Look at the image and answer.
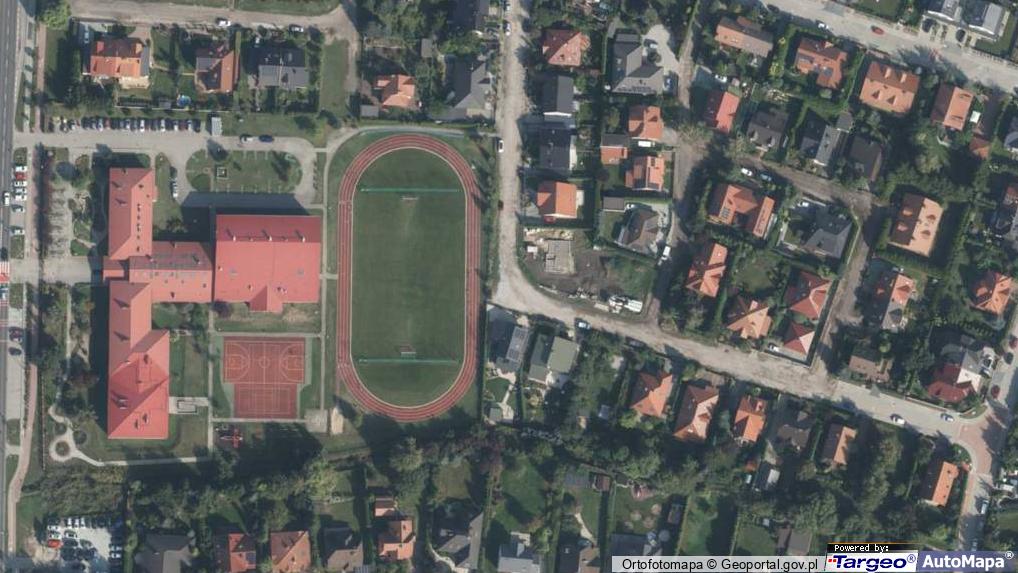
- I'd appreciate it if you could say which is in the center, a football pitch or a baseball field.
football pitch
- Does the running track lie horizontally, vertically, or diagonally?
vertically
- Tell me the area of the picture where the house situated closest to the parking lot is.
bottom left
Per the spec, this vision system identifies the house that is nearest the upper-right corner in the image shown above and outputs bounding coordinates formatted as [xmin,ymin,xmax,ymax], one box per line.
[961,0,1007,41]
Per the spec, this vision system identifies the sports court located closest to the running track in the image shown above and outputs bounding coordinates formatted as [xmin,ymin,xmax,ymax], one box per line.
[219,336,311,419]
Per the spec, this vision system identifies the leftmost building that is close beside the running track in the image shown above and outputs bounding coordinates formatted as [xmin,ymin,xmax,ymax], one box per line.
[102,168,215,439]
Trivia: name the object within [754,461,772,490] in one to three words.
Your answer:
building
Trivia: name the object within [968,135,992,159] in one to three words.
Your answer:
shed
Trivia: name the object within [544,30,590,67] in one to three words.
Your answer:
house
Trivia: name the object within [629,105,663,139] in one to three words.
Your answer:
house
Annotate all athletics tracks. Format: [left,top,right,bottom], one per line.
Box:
[337,132,481,423]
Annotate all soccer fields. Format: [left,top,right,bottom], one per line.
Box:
[353,148,466,408]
